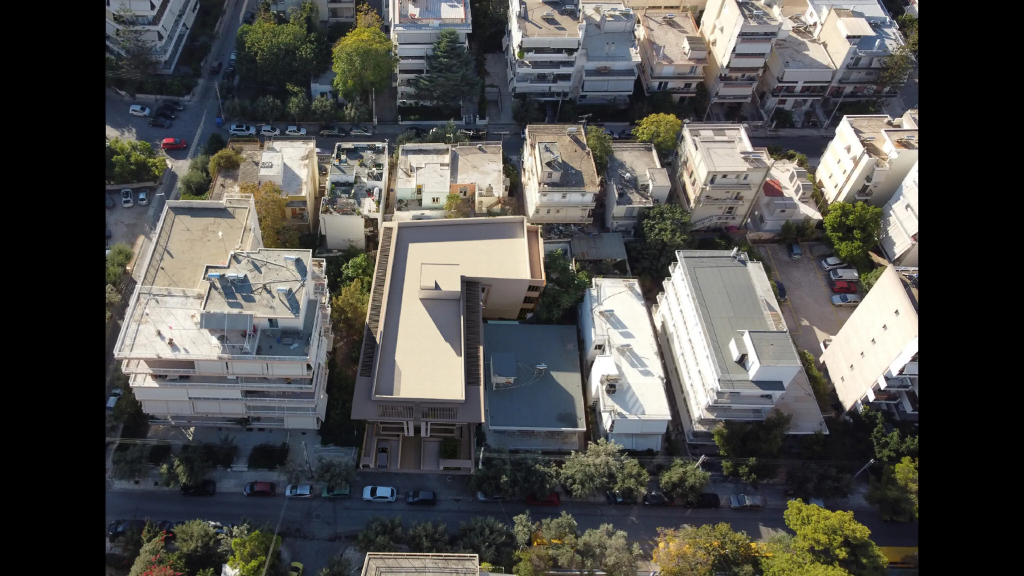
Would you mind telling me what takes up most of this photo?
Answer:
buildings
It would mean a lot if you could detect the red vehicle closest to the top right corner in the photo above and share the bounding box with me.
[830,281,859,294]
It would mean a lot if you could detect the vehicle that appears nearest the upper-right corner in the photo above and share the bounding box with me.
[807,111,819,128]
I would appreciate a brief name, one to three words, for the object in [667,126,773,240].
house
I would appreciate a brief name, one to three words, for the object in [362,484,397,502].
car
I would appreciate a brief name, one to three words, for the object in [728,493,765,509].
car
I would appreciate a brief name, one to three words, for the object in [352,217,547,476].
building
